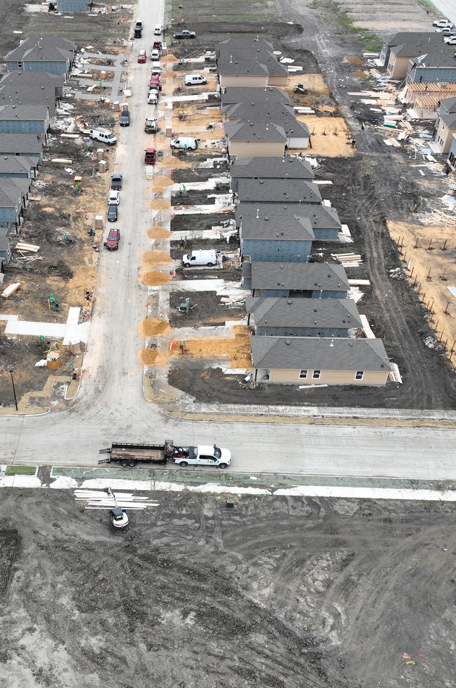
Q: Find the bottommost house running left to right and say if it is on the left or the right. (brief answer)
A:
right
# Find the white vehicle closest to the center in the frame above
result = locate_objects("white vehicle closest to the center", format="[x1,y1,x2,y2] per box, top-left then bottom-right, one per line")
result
[183,248,227,267]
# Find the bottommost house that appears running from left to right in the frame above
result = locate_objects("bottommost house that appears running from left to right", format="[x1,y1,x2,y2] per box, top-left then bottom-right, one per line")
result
[249,334,392,387]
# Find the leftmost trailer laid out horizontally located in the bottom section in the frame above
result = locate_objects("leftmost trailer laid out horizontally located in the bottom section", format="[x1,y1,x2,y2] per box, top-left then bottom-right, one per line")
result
[98,443,174,467]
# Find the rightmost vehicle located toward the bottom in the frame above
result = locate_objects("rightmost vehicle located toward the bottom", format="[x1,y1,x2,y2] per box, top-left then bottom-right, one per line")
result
[170,444,231,468]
